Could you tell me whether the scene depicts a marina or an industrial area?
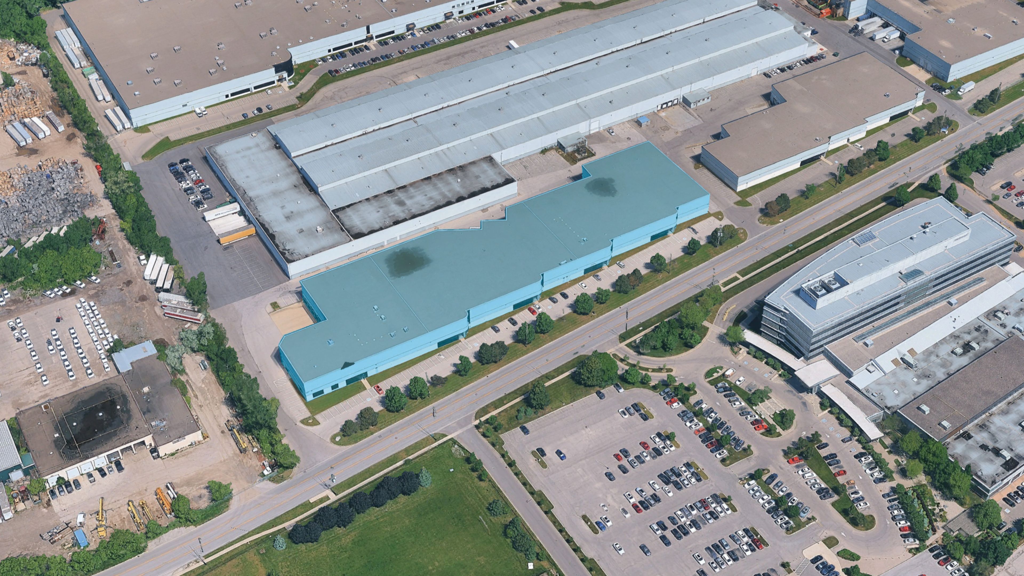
industrial area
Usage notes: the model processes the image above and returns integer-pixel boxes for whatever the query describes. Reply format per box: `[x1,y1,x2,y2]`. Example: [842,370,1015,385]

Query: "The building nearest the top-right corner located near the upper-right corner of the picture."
[863,0,1024,82]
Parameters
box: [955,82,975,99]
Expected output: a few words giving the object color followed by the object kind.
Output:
white vehicle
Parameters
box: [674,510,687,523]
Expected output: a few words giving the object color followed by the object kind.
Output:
white vehicle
